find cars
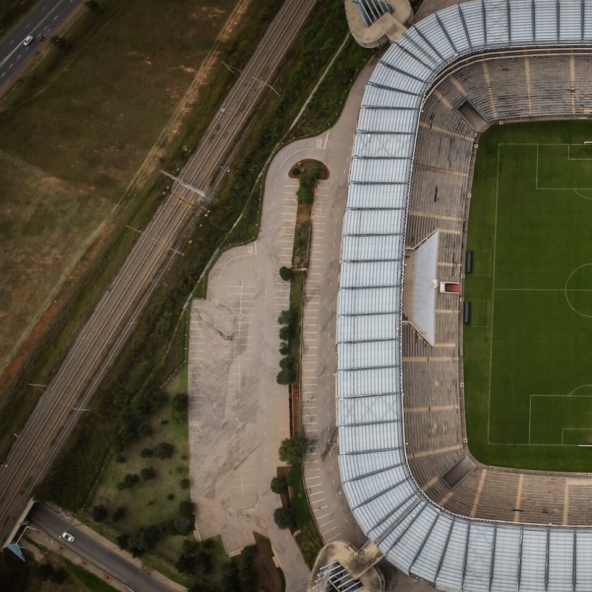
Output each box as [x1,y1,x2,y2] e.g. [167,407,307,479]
[22,36,34,46]
[62,532,76,543]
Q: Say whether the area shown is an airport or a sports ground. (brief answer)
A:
sports ground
